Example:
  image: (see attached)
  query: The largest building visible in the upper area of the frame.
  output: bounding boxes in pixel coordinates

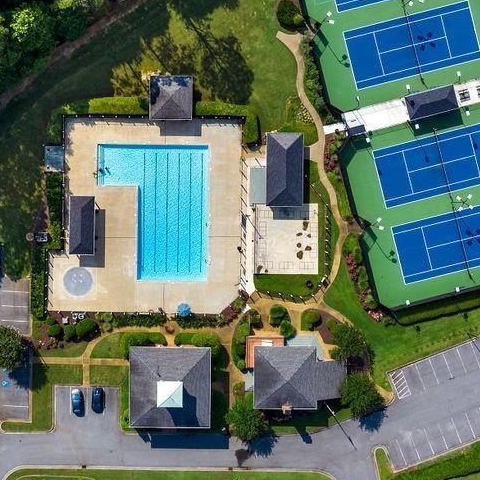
[249,132,304,206]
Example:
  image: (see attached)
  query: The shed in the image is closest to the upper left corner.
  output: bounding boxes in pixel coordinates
[44,146,66,173]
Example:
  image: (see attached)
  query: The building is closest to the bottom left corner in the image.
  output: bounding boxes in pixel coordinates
[129,346,212,430]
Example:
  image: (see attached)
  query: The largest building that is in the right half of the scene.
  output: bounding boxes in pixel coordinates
[245,330,347,415]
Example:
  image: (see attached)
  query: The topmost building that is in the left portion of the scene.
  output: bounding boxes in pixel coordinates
[149,76,193,120]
